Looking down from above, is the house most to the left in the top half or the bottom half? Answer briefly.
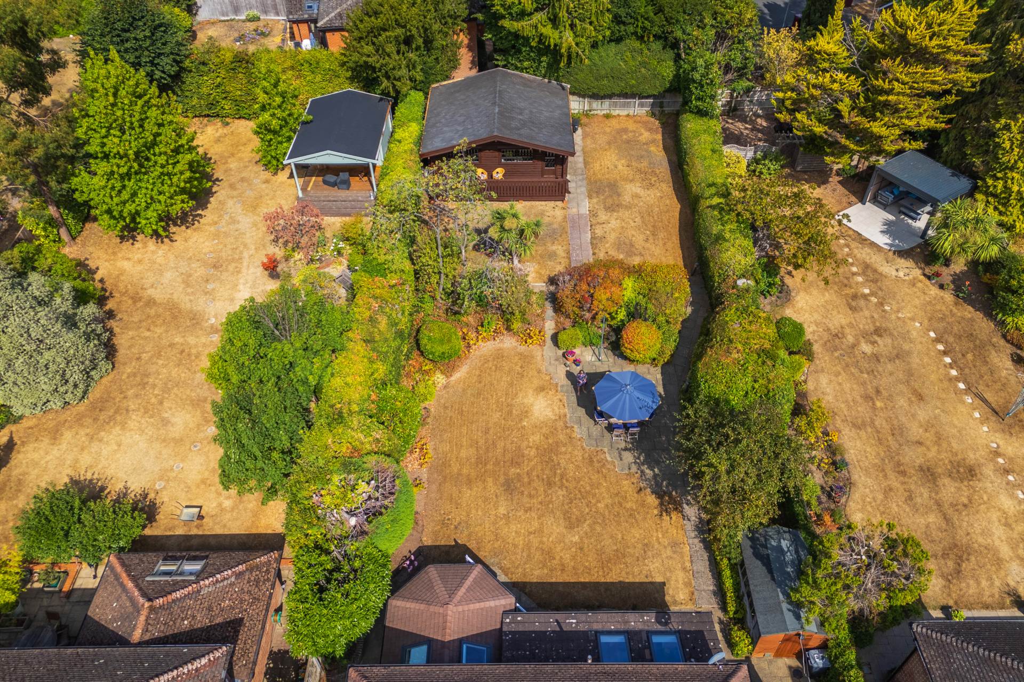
bottom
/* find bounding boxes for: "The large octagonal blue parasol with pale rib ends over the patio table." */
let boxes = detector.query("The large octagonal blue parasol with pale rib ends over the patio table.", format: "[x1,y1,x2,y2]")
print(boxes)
[592,370,662,429]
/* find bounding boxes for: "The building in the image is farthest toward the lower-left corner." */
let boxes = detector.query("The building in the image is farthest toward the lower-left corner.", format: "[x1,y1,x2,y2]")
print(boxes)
[0,548,285,682]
